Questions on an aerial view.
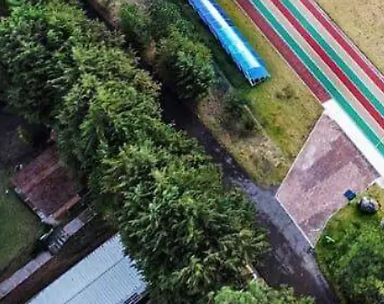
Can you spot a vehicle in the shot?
No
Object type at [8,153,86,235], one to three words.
shed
